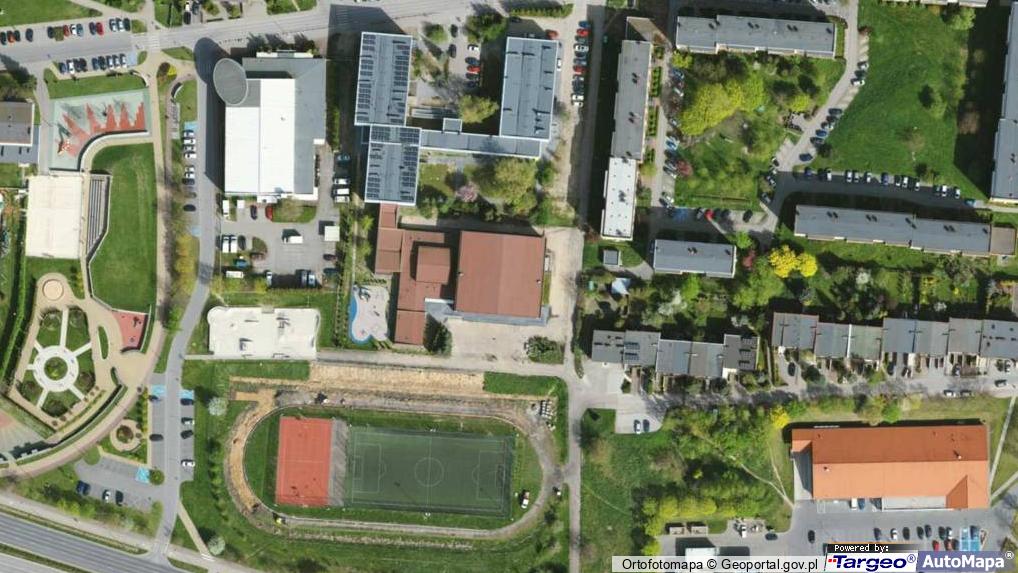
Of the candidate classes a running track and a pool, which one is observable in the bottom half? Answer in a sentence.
Visible in the bottom half is a running track.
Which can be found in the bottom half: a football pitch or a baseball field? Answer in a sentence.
There is a football pitch in the bottom half.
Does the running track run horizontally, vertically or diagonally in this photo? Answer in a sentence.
From this overhead view, the running track appears to run horizontally.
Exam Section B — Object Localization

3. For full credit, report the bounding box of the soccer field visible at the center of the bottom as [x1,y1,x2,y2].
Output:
[344,425,516,518]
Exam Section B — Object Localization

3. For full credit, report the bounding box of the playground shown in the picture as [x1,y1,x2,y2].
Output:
[348,284,390,344]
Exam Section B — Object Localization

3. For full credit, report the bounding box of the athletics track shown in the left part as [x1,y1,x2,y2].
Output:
[227,391,569,547]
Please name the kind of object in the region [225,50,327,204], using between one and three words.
building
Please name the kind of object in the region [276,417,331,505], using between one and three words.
sports court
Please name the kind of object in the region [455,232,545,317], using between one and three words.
building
